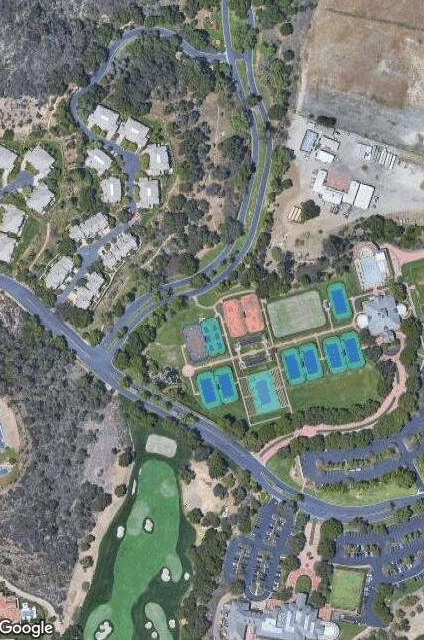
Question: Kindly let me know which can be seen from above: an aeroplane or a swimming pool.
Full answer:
I can see a swimming pool in this picture.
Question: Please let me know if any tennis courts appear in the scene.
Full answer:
Yes, there's a tennis court here.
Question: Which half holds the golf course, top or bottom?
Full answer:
The golf course is in the bottom half of the image.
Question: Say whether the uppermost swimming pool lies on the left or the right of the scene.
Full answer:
The uppermost swimming pool appears in the right half of the scene.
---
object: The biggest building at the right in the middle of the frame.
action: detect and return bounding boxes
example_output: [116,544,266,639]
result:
[360,292,405,342]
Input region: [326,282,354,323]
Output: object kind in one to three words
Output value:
tennis court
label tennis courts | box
[341,330,366,368]
[280,347,306,385]
[322,336,348,373]
[195,371,221,409]
[299,342,324,380]
[213,366,239,405]
[223,300,247,336]
[240,295,265,332]
[326,282,354,323]
[247,369,280,415]
[184,323,208,362]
